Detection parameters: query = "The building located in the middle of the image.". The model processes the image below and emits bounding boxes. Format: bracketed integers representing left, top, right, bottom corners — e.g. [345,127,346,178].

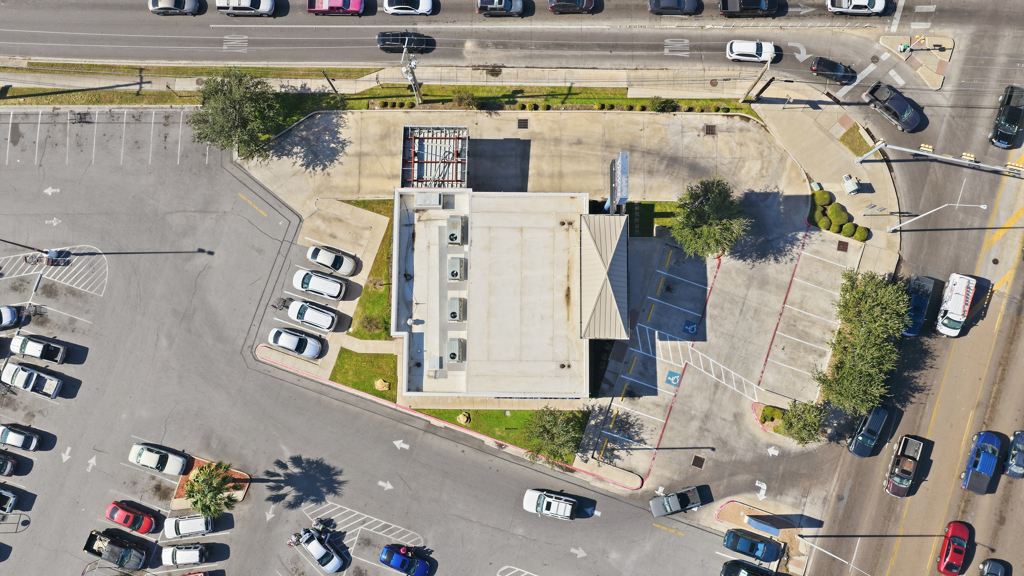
[391,188,631,400]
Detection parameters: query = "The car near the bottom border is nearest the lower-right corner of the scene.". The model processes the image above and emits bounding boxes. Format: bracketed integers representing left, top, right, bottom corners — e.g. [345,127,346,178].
[979,556,1005,576]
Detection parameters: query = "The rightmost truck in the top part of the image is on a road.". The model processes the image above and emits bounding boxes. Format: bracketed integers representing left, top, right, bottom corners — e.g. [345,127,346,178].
[990,85,1024,150]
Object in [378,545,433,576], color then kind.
blue car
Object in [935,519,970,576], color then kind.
red car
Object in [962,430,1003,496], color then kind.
blue truck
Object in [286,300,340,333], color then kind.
white car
